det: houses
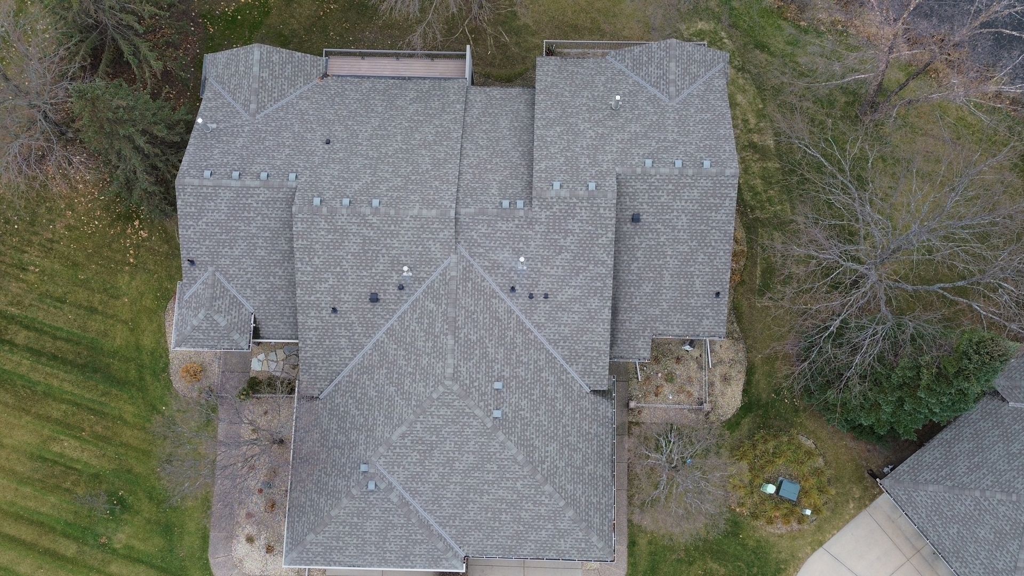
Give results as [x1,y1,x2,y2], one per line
[871,344,1024,576]
[168,38,739,572]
